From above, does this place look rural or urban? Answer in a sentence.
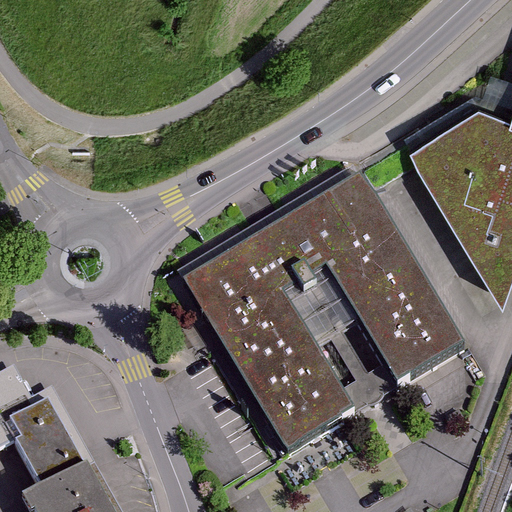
This place is urban.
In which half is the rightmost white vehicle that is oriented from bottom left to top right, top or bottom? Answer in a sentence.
You can find the rightmost white vehicle that is oriented from bottom left to top right in the top half.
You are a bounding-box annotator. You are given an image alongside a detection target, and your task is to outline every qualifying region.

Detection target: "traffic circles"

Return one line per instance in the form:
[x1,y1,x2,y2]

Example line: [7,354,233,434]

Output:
[38,218,132,310]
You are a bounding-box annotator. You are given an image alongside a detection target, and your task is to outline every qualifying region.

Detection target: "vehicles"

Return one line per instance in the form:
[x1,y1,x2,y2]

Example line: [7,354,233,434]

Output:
[461,346,484,378]
[419,390,434,410]
[188,359,210,374]
[198,172,217,186]
[214,398,234,413]
[376,74,401,94]
[301,128,321,142]
[360,490,382,506]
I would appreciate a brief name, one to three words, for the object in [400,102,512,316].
building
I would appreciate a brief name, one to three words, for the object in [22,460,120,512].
building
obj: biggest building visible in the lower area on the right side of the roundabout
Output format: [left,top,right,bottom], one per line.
[178,170,465,458]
